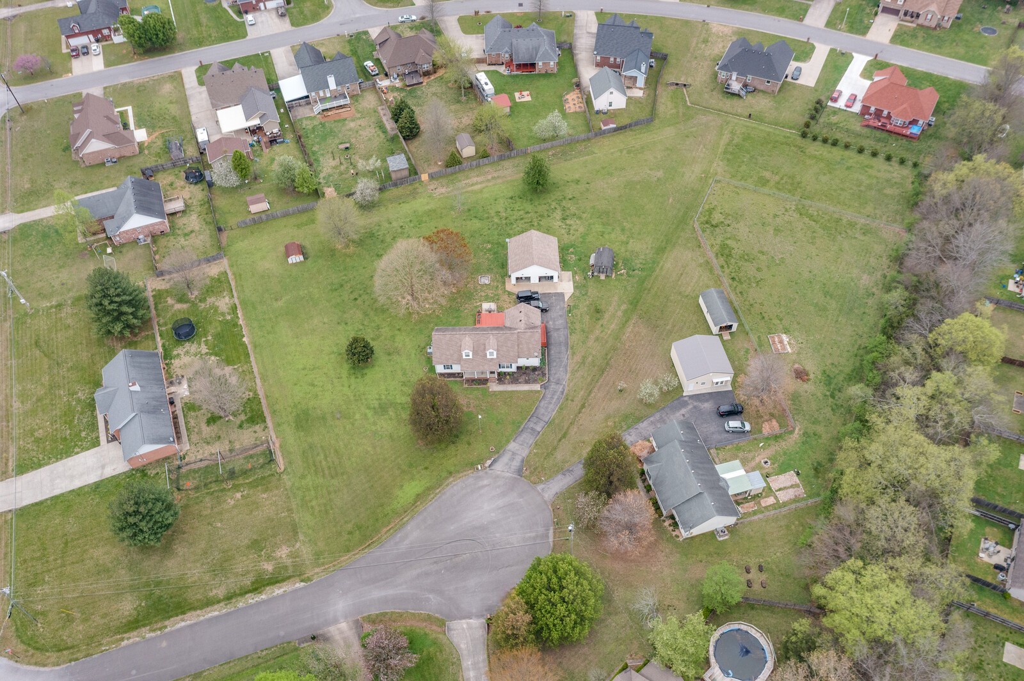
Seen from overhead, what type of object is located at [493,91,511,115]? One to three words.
shed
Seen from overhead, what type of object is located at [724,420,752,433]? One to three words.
vehicle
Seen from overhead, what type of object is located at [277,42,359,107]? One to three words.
house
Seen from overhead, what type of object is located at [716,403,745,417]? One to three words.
car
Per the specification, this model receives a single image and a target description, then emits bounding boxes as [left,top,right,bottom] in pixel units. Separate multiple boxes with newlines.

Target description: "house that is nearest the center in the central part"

[432,300,543,382]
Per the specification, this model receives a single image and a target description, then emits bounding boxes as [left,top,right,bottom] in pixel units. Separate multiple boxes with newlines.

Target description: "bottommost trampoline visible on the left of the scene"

[170,317,196,341]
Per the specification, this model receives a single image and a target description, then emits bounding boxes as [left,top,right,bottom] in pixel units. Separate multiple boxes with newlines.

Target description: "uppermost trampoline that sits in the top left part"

[182,164,203,183]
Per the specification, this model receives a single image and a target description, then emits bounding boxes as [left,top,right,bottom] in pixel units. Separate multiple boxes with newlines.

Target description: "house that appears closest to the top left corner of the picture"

[54,0,124,44]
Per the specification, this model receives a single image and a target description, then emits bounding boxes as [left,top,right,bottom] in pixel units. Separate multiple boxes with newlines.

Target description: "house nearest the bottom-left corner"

[94,350,179,468]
